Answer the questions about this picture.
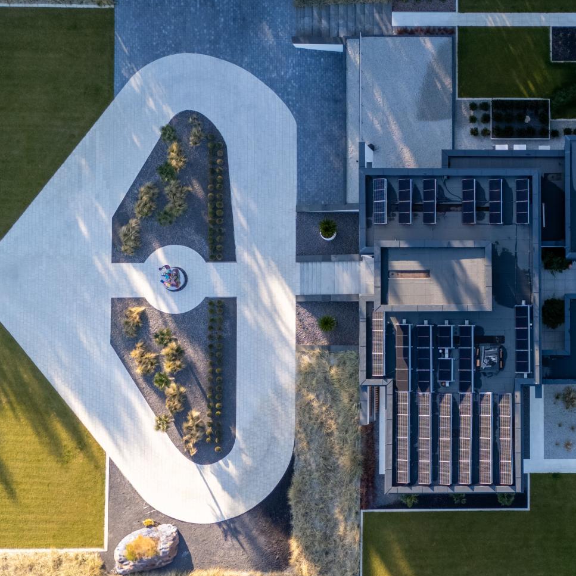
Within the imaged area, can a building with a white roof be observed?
No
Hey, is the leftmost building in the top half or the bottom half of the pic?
top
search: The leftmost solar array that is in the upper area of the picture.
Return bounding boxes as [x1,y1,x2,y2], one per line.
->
[373,177,390,225]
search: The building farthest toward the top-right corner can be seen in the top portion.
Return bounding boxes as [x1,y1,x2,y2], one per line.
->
[345,36,454,205]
